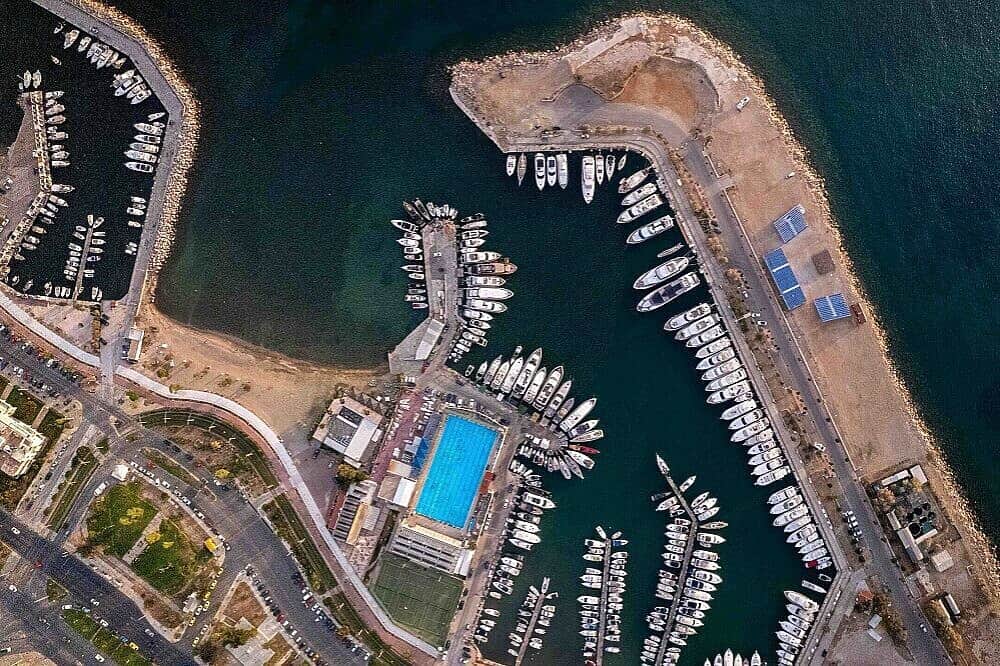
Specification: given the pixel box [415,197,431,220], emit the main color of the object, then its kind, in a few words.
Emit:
gray boat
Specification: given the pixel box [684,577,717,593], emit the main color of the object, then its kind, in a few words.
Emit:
white boat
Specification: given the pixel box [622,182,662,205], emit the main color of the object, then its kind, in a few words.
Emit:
white boat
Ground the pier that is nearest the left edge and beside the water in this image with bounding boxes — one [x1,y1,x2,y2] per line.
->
[0,92,40,245]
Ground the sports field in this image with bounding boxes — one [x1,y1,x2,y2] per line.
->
[367,551,466,654]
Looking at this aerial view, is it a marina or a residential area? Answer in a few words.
marina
